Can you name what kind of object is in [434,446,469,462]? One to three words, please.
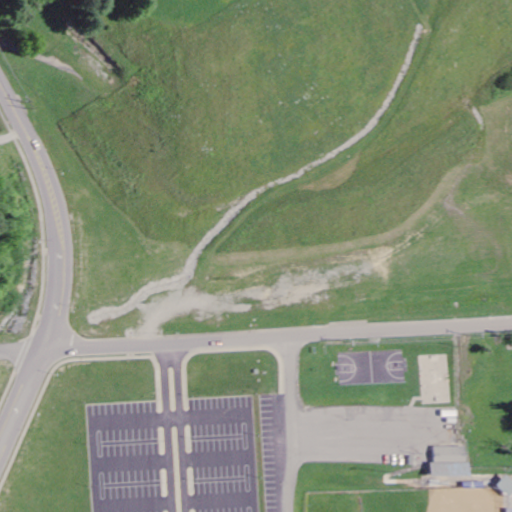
shed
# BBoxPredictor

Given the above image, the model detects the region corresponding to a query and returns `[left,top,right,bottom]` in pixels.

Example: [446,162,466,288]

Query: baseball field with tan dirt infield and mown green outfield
[310,488,502,512]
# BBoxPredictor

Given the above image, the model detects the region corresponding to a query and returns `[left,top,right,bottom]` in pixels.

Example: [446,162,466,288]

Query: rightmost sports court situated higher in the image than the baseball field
[418,354,451,404]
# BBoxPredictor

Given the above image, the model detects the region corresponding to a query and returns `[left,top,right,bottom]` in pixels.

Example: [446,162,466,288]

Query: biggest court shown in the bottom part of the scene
[335,350,408,386]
